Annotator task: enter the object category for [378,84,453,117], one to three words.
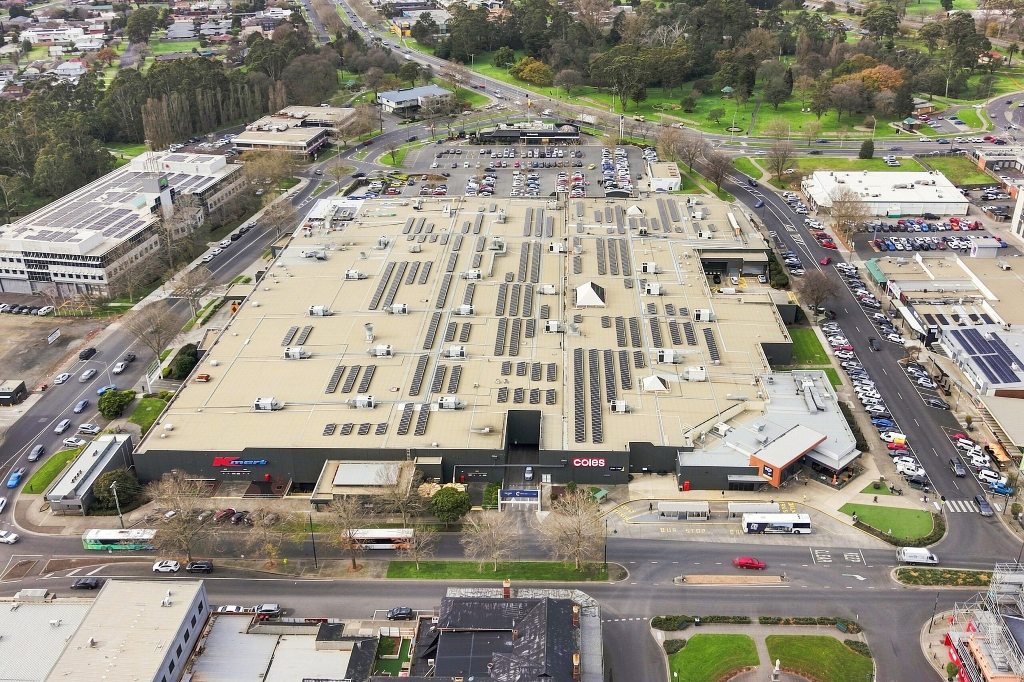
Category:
building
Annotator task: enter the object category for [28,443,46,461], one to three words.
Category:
car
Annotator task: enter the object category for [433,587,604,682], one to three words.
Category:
building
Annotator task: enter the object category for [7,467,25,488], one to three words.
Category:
vehicle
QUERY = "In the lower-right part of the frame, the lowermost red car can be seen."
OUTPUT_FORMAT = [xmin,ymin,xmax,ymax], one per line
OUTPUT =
[734,556,765,570]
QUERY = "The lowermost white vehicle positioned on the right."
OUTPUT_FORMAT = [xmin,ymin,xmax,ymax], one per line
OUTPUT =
[896,544,938,566]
